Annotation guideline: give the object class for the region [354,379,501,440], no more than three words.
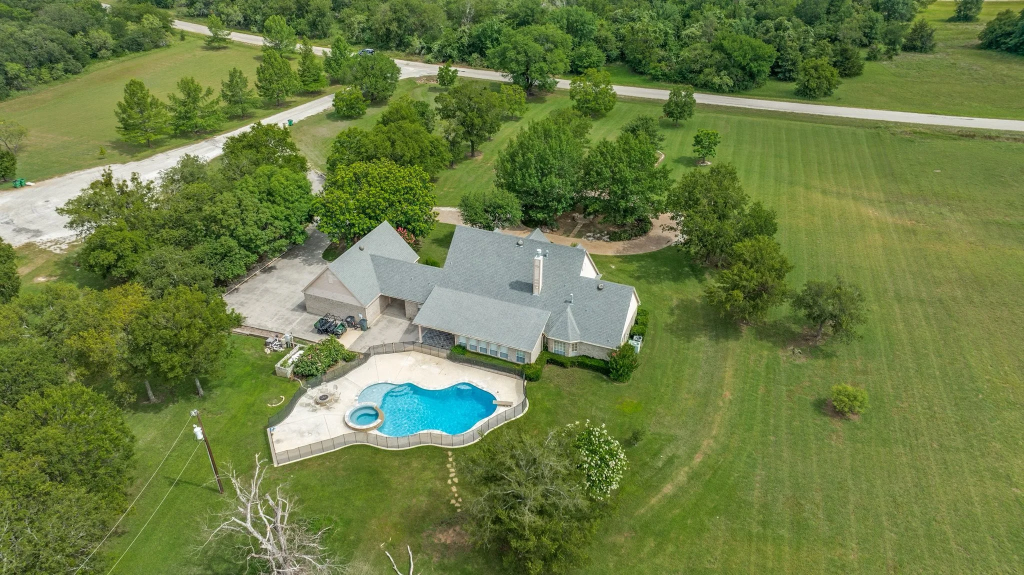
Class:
swimming pool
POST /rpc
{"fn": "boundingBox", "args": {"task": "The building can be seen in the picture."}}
[300,221,640,366]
